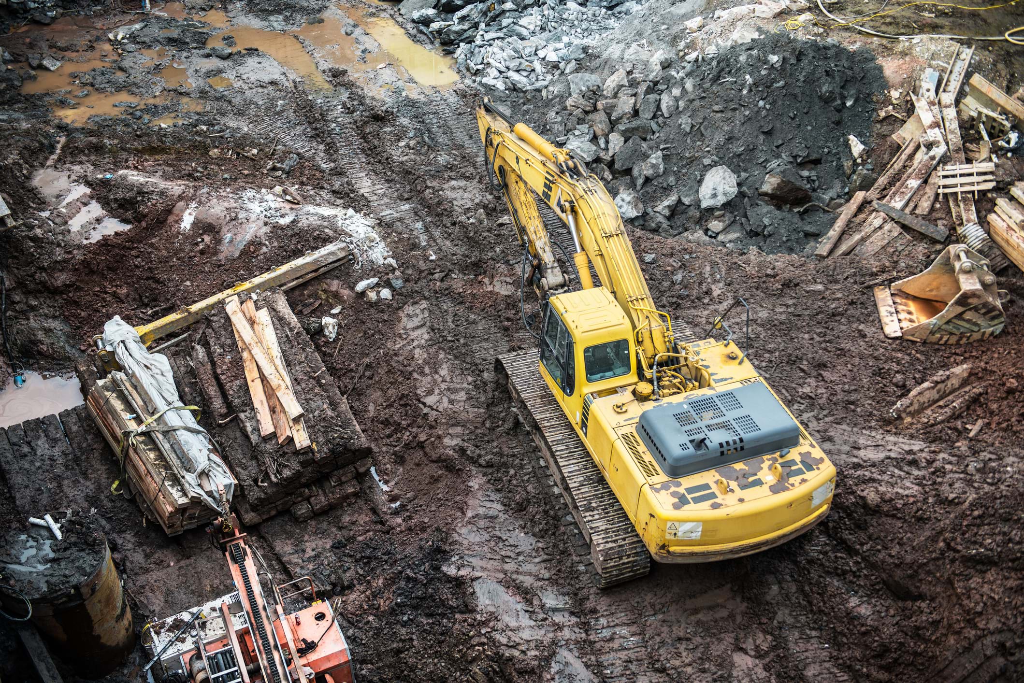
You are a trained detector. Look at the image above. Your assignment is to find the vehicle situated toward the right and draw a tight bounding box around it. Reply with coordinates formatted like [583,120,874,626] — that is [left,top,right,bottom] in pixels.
[474,88,835,593]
